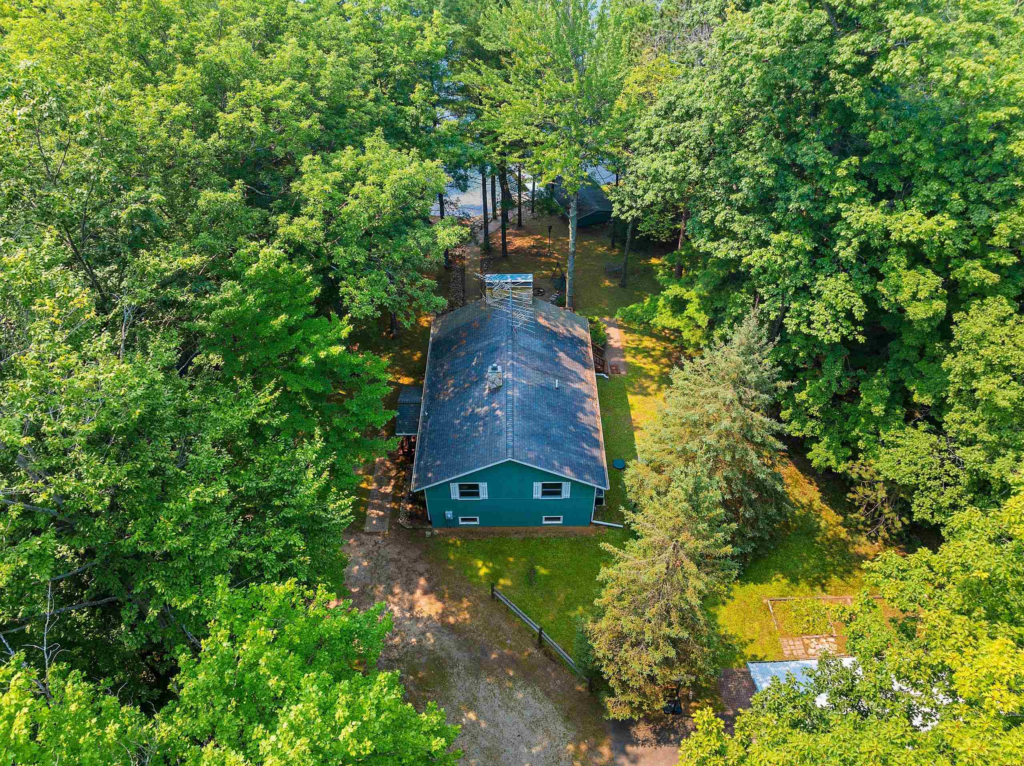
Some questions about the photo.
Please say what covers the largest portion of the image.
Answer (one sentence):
The scene is dominated by trees.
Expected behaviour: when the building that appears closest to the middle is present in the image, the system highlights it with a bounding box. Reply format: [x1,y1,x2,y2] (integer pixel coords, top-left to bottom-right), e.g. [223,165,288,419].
[395,271,623,530]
